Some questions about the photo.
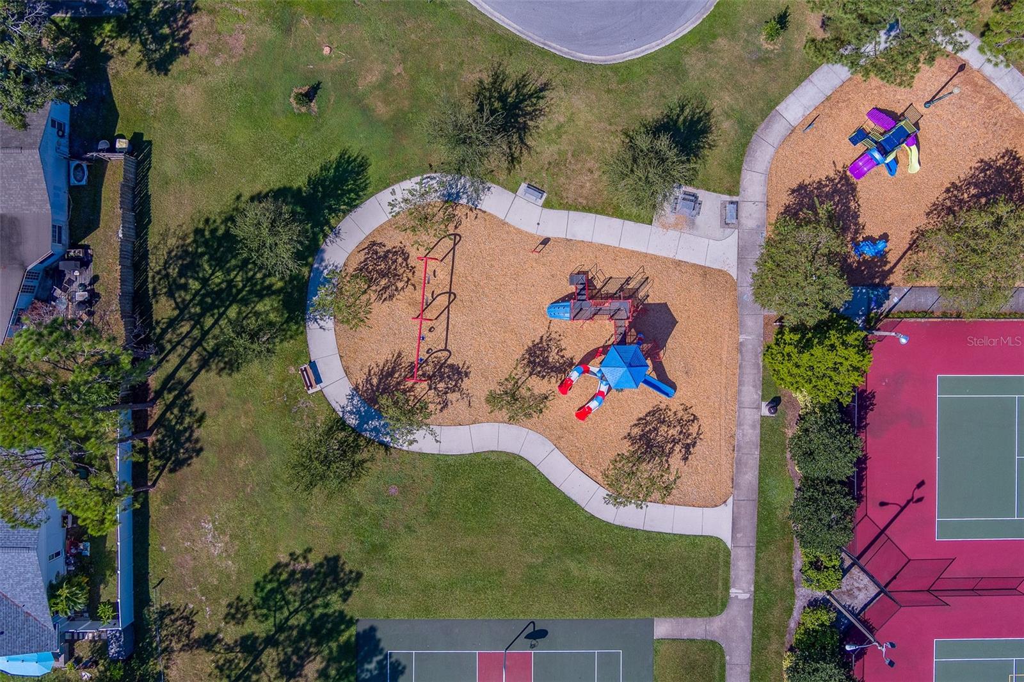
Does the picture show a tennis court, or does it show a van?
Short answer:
tennis court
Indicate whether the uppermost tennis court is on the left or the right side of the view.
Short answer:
right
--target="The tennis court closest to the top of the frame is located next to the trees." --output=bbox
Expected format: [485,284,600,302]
[842,321,1024,591]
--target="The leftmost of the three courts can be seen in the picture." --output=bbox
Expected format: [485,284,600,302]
[356,619,654,682]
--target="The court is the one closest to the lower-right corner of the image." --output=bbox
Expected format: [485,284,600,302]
[838,591,1024,682]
